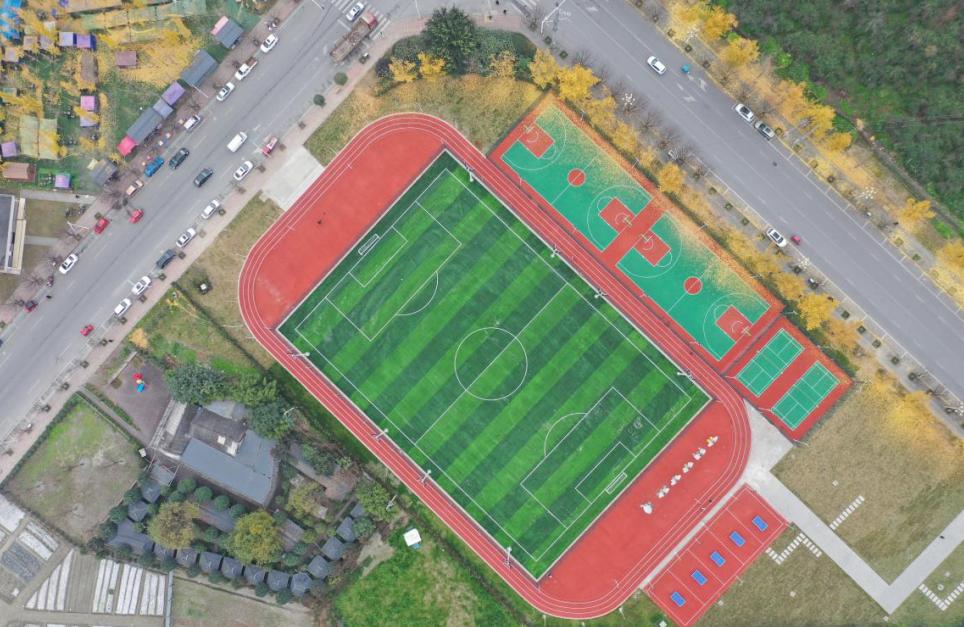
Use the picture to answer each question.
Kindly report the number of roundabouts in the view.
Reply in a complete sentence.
No roundabouts are visible.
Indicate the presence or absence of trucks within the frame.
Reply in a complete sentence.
Yes, a truck appears in the view.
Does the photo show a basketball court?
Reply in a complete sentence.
Yes, a basketball court can be made out from above.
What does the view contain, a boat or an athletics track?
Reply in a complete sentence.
It is an athletics track that can be seen here.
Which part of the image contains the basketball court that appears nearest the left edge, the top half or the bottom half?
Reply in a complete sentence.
The top half of the photo is where the basketball court that appears nearest the left edge is.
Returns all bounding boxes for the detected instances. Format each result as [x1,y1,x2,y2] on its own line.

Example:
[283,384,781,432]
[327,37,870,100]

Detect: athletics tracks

[237,113,750,618]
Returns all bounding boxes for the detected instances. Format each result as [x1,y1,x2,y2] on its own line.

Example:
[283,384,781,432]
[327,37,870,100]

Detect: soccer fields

[274,147,714,583]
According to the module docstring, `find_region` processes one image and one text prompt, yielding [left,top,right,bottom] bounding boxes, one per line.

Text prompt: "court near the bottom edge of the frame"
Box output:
[643,483,789,627]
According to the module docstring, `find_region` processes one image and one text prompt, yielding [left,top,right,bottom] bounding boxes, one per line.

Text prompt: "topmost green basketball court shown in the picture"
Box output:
[502,105,652,252]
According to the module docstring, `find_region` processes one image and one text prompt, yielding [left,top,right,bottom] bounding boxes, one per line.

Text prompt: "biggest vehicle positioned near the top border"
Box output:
[327,10,378,65]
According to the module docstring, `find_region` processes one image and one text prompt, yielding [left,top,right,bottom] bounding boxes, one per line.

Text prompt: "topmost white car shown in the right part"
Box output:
[646,56,667,76]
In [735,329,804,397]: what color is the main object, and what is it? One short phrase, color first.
green sports court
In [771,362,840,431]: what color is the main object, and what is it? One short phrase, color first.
green sports court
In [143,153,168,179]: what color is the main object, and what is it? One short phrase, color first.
blue truck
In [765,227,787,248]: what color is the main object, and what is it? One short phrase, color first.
white car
